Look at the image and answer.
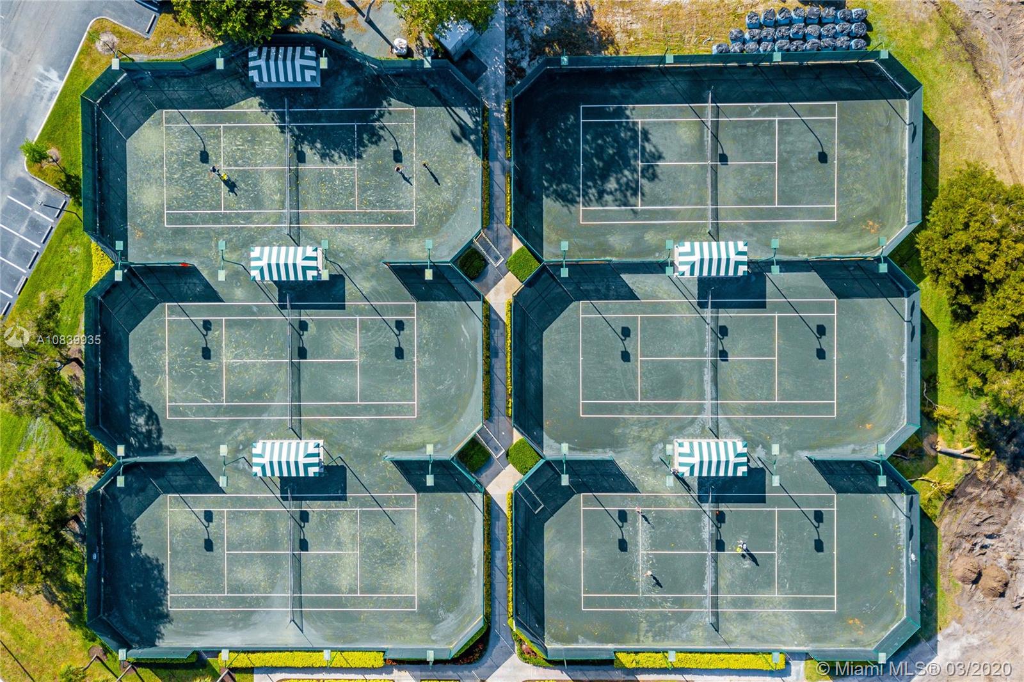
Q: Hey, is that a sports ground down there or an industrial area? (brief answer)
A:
sports ground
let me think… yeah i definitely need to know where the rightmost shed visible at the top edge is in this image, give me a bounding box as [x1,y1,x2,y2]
[420,1,483,67]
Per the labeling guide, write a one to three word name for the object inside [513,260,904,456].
tennis court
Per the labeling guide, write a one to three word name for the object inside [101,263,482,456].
tennis court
